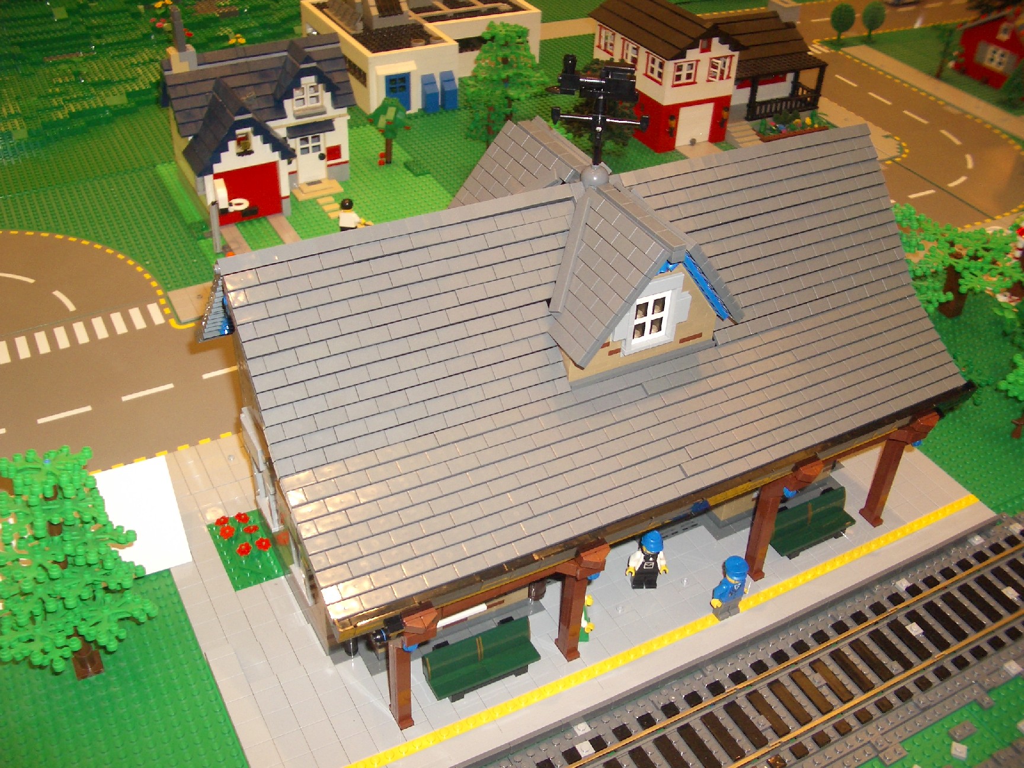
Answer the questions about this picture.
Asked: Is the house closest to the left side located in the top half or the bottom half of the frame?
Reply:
top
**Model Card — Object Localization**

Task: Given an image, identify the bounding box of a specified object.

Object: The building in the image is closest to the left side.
[151,3,355,228]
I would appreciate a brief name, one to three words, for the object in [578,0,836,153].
house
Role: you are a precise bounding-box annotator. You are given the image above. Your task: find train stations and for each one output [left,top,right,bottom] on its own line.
[197,124,965,730]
